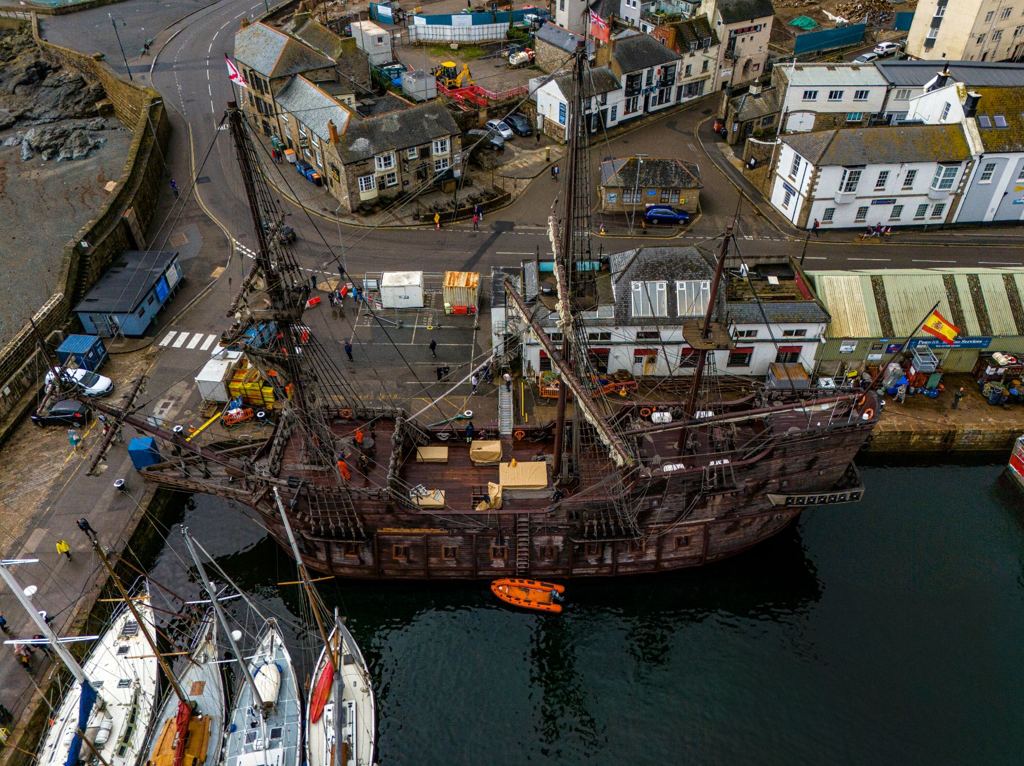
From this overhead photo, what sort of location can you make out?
port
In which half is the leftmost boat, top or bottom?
bottom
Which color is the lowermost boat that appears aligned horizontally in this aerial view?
orange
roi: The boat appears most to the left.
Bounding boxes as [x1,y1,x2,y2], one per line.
[0,527,158,766]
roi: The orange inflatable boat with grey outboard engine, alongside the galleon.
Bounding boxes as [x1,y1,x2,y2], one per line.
[490,580,572,615]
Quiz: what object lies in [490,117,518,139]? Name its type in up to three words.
car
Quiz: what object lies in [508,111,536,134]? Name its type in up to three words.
car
